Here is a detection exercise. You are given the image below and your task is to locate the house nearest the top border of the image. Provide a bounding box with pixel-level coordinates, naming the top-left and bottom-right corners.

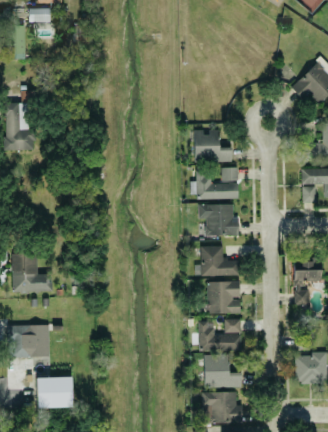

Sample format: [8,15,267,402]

[29,8,50,22]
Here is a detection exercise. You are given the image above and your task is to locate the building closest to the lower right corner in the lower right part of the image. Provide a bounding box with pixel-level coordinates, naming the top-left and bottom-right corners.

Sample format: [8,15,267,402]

[296,352,328,385]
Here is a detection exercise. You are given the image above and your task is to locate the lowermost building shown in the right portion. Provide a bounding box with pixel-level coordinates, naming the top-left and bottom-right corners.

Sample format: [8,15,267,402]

[202,392,242,424]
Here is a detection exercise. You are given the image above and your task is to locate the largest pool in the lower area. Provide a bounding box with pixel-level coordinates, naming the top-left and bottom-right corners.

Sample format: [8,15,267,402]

[310,288,324,316]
